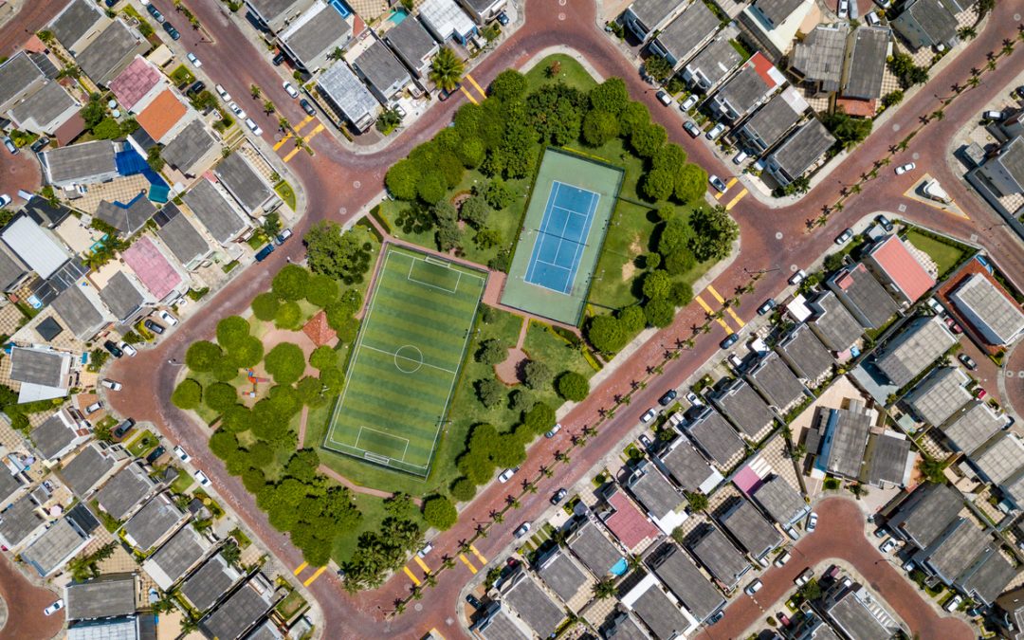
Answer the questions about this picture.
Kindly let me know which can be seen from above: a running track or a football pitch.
football pitch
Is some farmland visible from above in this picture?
No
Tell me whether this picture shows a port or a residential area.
residential area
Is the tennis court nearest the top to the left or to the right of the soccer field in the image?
to its right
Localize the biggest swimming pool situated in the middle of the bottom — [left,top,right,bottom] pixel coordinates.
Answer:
[610,558,630,577]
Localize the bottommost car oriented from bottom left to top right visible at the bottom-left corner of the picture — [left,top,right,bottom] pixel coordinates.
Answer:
[45,598,65,614]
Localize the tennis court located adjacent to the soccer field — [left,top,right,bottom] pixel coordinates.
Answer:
[501,149,623,326]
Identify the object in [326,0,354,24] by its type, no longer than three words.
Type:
swimming pool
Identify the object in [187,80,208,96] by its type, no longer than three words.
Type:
car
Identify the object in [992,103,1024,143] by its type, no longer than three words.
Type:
house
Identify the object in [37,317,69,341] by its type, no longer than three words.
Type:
gazebo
